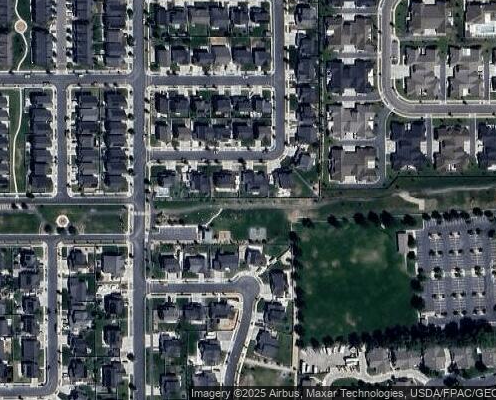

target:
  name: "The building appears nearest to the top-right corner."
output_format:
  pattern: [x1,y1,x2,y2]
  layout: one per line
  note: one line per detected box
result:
[467,0,496,22]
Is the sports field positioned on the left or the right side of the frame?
right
